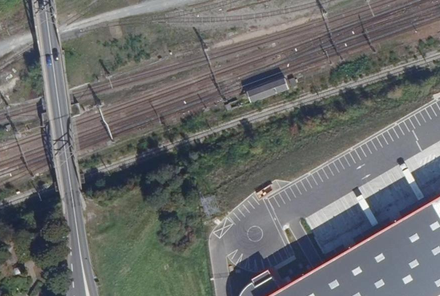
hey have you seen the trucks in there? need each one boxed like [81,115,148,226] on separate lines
[356,194,382,230]
[400,164,425,200]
